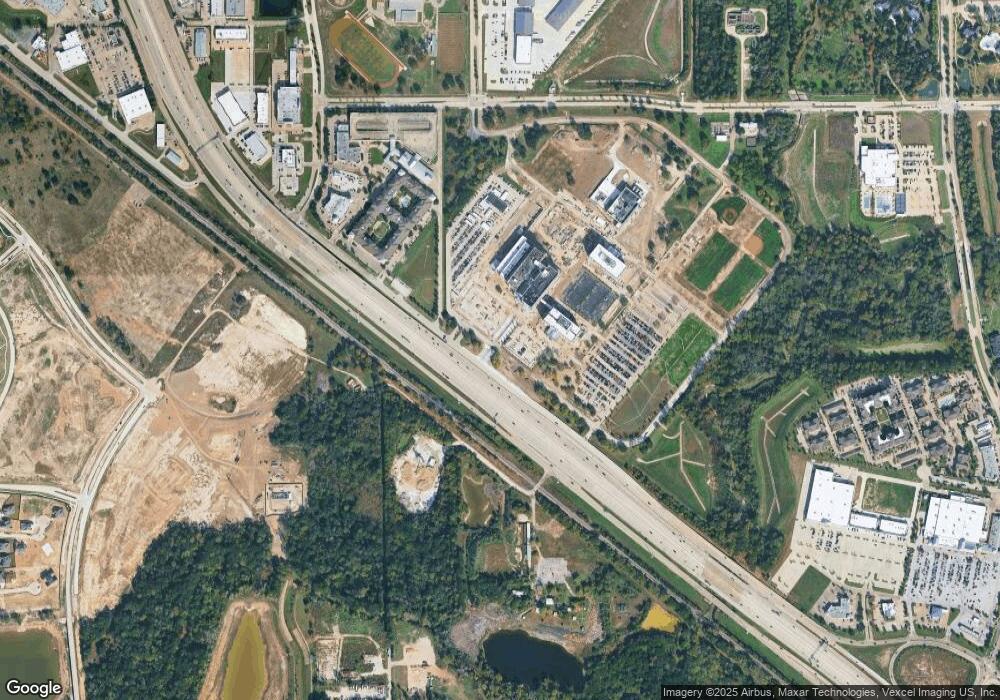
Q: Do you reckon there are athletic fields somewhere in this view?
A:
Yes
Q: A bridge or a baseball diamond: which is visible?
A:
baseball diamond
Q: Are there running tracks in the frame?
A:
Yes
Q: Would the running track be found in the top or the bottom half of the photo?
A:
top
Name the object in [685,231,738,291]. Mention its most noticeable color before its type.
green sports field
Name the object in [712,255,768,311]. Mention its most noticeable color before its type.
green sports field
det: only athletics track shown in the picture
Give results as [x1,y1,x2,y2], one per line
[329,18,397,86]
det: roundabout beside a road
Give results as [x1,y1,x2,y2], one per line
[889,640,979,700]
